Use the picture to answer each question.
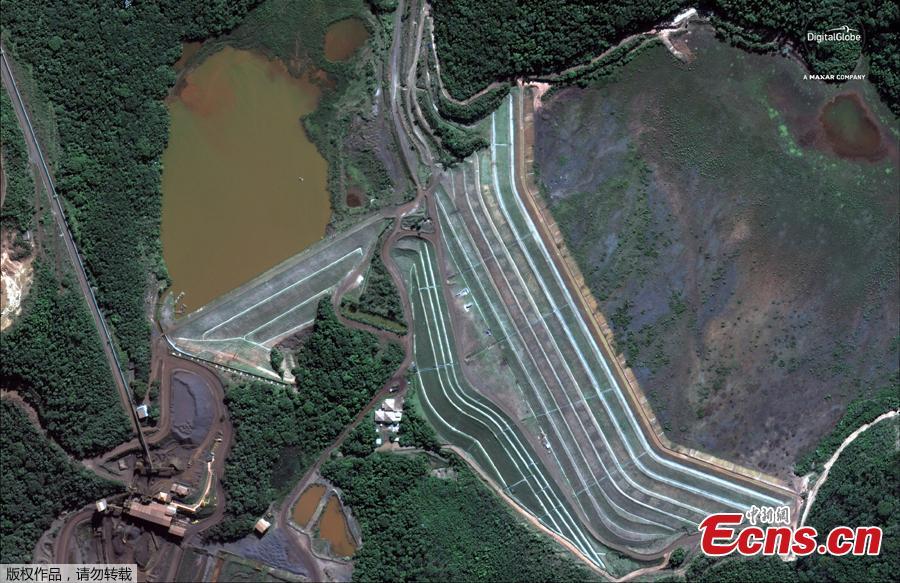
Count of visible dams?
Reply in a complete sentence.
The number of dams here is 2.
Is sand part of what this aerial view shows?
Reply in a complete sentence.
Yes, there's sand in this view.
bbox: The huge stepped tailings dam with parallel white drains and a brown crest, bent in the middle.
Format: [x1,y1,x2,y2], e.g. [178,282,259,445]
[435,80,804,555]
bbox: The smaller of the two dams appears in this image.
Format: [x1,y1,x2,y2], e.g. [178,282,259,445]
[173,224,386,352]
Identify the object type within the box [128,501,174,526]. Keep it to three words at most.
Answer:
building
